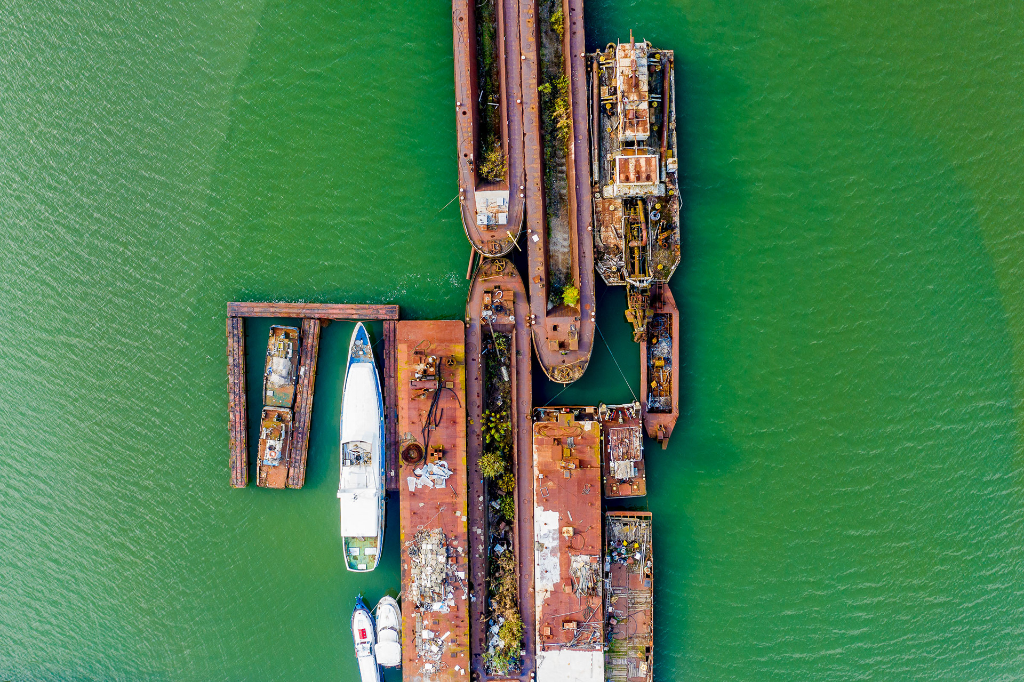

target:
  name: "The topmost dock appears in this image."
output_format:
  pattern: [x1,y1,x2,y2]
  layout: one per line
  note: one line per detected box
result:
[227,302,401,320]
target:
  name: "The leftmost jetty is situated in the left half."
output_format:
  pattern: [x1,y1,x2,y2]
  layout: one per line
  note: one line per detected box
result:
[225,318,251,488]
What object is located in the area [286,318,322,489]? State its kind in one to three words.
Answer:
pier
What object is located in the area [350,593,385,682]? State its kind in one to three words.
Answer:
boat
